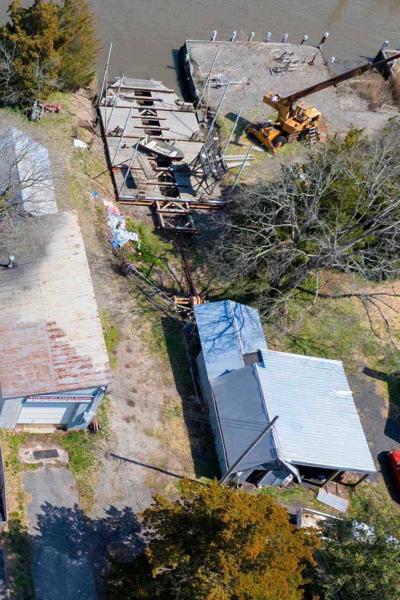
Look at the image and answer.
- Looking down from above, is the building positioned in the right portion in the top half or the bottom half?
bottom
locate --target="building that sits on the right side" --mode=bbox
[189,301,379,488]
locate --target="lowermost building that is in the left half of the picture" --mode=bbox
[0,211,115,434]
